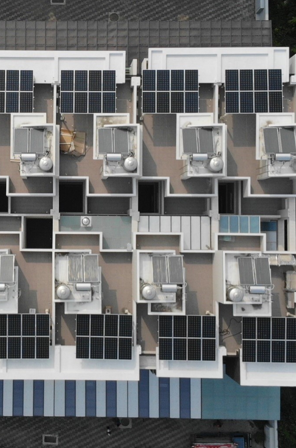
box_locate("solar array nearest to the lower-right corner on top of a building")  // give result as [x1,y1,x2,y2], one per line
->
[235,310,296,362]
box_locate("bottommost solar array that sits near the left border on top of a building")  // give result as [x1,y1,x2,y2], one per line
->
[0,307,50,358]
